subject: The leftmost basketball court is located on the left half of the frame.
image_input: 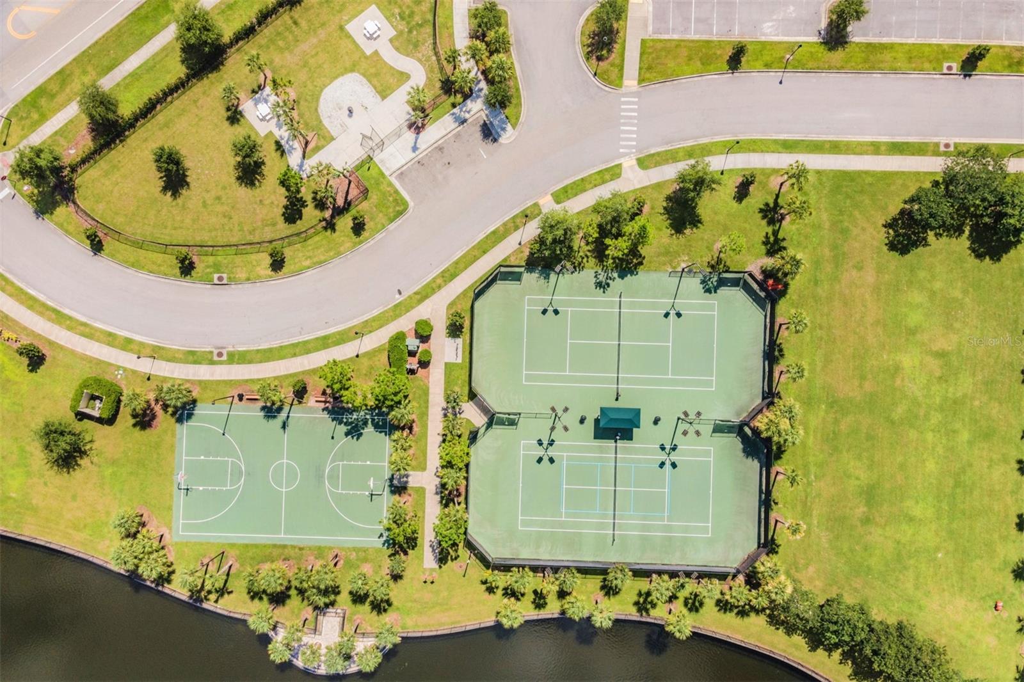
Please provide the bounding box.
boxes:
[173,404,392,547]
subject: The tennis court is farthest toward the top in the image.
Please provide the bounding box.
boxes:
[472,269,764,421]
